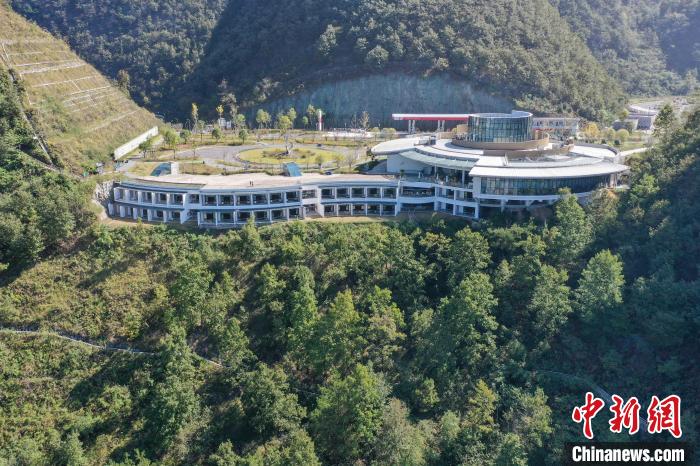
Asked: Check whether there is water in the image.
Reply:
No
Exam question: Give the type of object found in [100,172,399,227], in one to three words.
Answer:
building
